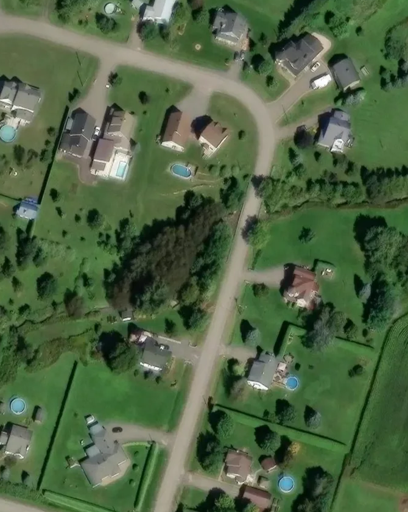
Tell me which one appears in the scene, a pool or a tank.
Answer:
pool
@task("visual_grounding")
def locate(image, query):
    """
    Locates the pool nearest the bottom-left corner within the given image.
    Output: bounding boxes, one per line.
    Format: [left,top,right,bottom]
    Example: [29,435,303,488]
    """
[9,398,25,415]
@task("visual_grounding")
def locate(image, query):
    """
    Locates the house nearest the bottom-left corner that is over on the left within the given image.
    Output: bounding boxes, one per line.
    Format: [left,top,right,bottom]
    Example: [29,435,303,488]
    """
[0,424,32,459]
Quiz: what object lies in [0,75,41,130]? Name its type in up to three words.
house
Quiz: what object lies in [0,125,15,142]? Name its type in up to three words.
swimming pool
